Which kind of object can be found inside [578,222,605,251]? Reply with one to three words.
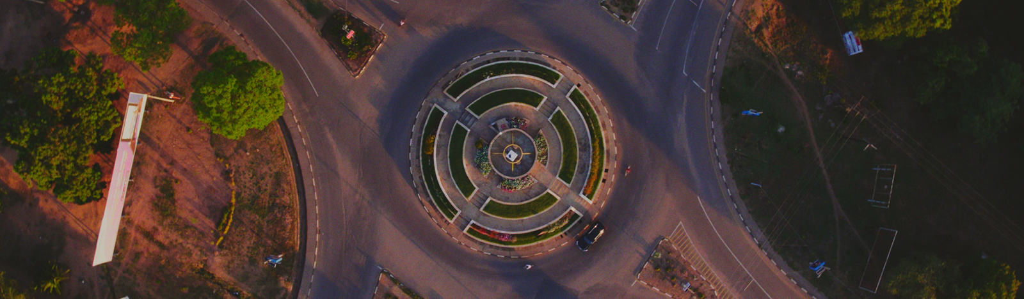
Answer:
car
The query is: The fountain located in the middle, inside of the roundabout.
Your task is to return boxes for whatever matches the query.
[489,129,537,178]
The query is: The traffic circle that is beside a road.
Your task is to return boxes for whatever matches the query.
[409,50,618,258]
